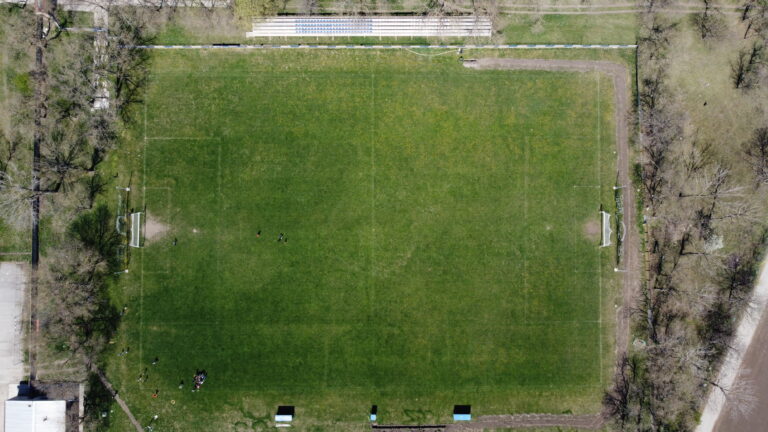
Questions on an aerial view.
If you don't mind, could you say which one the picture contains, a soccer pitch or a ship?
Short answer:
soccer pitch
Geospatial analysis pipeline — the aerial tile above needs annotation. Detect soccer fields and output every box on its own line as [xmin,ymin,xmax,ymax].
[140,52,603,391]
